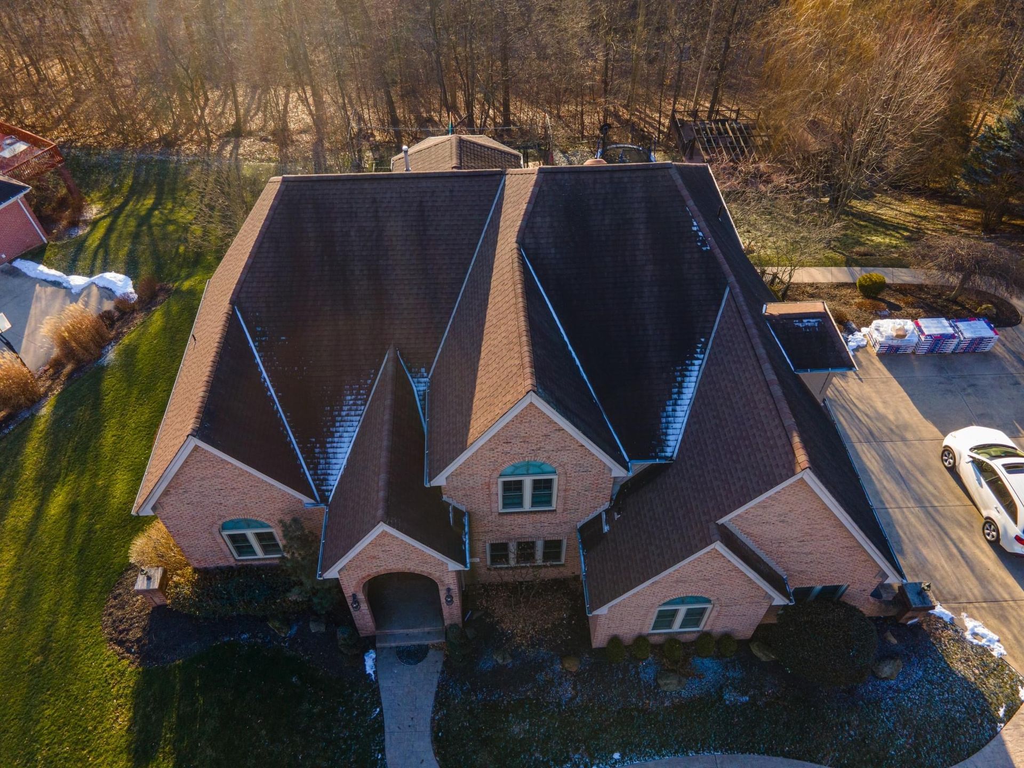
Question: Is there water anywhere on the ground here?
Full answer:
No, there's no water in this view.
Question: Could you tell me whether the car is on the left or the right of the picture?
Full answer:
The car sits on the right side.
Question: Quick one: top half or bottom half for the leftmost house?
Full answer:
The leftmost house is in the top half of the image.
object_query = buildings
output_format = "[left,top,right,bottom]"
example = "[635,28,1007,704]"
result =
[137,134,903,647]
[0,167,50,271]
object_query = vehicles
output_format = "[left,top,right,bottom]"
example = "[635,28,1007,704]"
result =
[942,429,1024,566]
